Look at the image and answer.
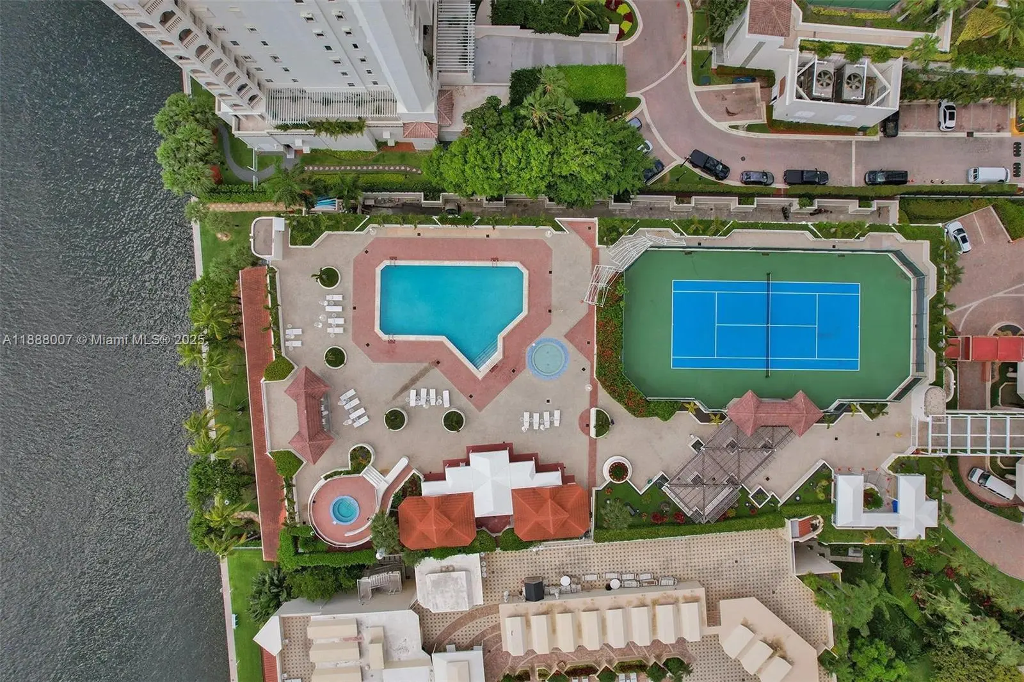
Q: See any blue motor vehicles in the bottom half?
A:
No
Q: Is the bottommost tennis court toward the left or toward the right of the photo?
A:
right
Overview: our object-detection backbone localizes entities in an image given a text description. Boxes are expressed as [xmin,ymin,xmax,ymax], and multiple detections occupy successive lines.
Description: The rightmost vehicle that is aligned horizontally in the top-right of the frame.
[962,165,1013,185]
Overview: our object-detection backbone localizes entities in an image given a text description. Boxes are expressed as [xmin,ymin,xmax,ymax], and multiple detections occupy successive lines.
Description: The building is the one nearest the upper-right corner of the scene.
[724,0,796,125]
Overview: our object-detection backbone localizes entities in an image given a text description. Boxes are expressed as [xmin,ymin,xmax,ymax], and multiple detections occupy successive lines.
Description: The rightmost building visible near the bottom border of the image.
[712,589,818,682]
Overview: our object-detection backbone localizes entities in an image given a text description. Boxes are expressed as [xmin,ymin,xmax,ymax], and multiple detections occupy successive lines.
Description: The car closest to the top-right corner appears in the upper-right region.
[936,102,957,134]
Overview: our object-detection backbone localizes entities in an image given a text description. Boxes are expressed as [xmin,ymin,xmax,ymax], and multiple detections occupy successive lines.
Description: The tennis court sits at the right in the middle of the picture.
[623,249,909,410]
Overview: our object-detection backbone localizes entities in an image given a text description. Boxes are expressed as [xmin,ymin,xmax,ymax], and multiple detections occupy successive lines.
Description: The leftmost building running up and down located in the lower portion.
[284,367,334,465]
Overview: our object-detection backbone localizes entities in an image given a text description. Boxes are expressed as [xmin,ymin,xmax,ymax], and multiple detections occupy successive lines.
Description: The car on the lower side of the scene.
[966,466,1014,501]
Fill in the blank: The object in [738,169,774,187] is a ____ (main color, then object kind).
gray car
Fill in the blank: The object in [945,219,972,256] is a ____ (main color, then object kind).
white car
